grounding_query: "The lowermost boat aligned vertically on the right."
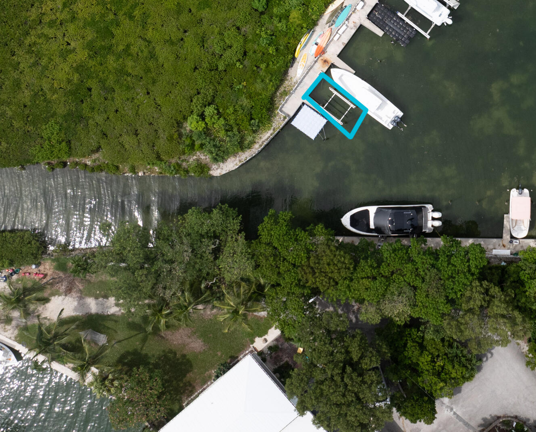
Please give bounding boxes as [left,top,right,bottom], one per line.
[510,179,530,238]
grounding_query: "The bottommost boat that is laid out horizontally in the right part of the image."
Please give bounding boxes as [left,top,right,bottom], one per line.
[341,204,442,234]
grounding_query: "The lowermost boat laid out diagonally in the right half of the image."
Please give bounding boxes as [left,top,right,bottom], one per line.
[331,68,411,136]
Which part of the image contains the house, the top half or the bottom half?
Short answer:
bottom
